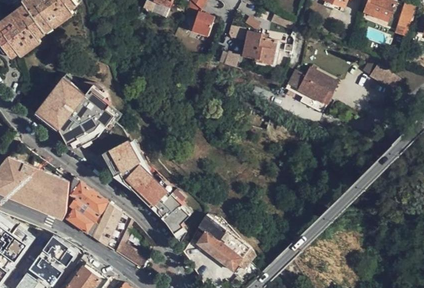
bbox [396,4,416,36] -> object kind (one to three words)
house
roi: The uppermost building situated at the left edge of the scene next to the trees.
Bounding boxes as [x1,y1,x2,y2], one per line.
[0,0,83,60]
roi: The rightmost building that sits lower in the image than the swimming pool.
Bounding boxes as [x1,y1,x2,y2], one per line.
[362,62,401,84]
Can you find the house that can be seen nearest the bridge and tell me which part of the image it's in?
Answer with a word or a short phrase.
bottom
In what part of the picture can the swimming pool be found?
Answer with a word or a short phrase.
top right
